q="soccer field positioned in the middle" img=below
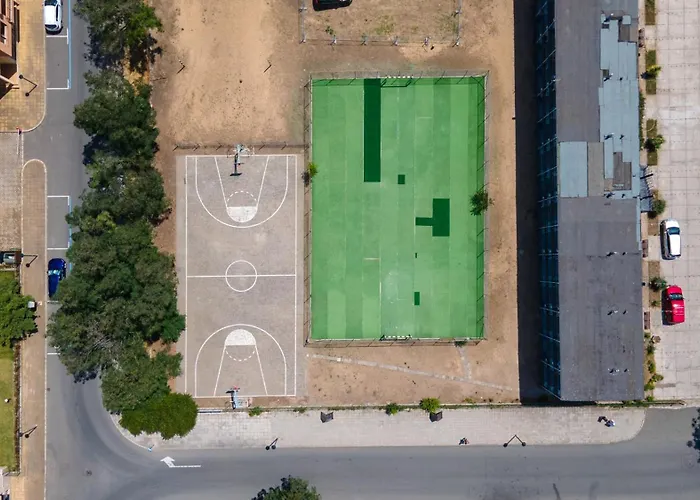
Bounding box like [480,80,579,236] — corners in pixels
[308,75,488,342]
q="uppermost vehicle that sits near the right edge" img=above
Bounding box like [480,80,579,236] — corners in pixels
[659,221,682,259]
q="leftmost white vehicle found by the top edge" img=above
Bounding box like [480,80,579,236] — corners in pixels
[42,0,64,31]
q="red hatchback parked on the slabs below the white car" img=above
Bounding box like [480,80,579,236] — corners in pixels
[660,286,682,324]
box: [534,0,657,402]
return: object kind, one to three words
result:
building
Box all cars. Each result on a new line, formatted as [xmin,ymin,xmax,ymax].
[45,259,66,298]
[659,221,682,259]
[314,0,353,8]
[42,0,64,31]
[660,286,682,324]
